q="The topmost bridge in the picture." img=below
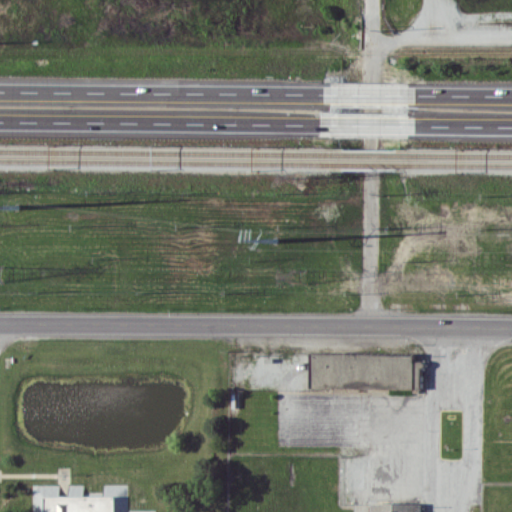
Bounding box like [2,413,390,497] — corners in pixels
[319,84,416,139]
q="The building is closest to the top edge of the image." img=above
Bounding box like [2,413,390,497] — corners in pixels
[310,354,427,392]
